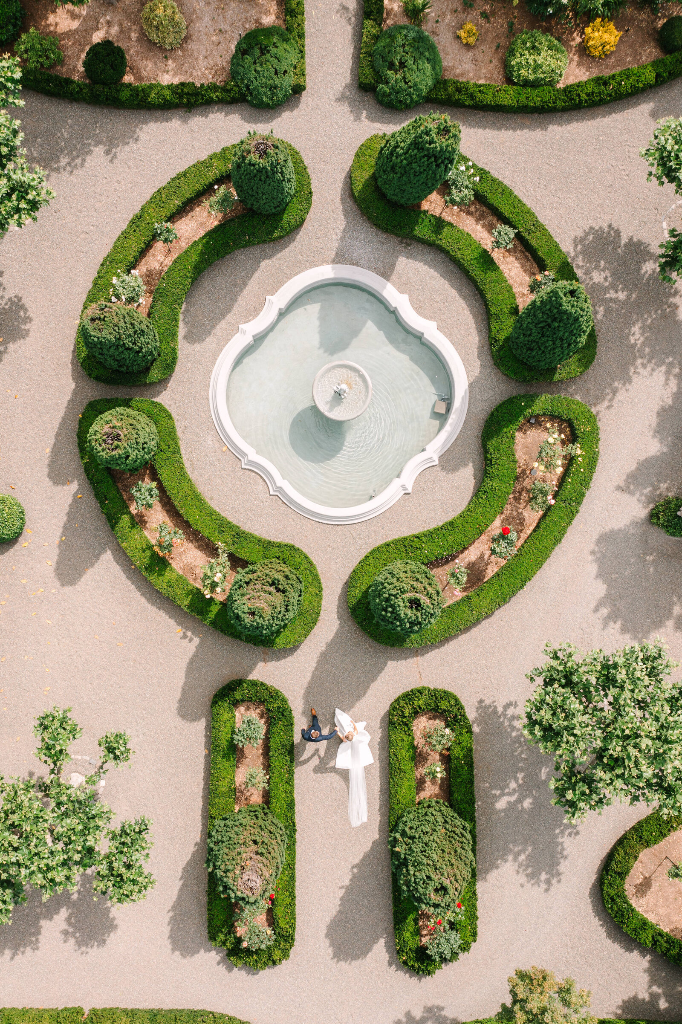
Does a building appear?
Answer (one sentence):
No, this view has no building in it.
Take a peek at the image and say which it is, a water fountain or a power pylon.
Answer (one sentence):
Looking from above, you can make out a water fountain.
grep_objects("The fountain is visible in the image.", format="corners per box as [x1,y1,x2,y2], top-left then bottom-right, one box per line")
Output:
[210,264,469,524]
